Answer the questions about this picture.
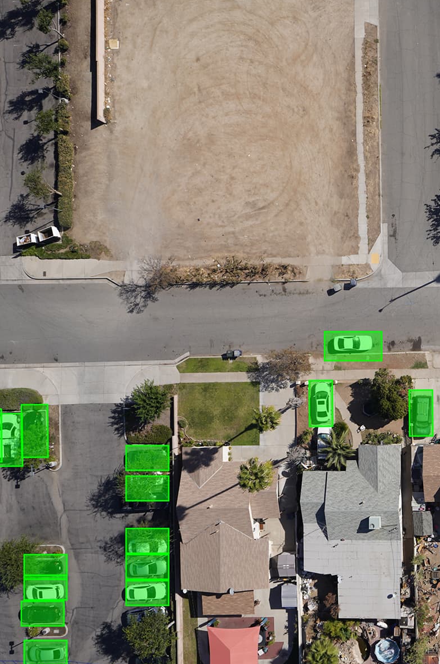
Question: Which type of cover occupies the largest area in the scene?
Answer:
paved ground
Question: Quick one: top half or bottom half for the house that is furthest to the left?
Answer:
bottom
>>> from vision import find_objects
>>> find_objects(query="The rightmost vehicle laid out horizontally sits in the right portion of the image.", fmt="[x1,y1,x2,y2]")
[334,335,372,352]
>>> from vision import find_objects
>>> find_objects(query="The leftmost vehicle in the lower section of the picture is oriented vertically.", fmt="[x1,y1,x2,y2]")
[0,415,20,458]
